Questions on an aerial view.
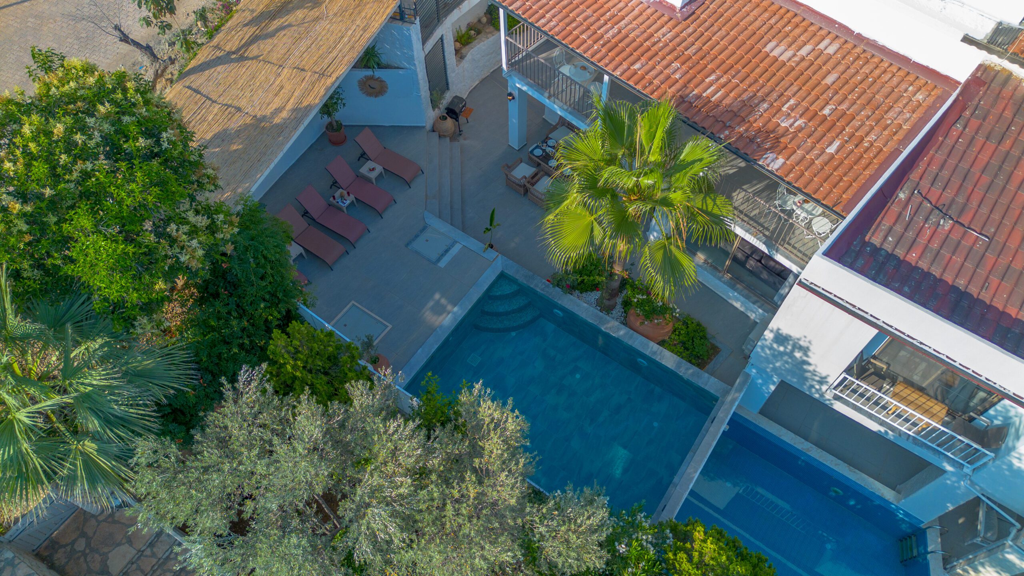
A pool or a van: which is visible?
pool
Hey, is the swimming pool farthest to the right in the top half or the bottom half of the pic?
bottom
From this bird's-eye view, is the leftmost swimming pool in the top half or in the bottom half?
bottom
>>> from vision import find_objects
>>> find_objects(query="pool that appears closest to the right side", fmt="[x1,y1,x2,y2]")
[651,409,947,576]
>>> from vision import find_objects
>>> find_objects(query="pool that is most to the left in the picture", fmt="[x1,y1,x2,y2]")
[401,257,733,539]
